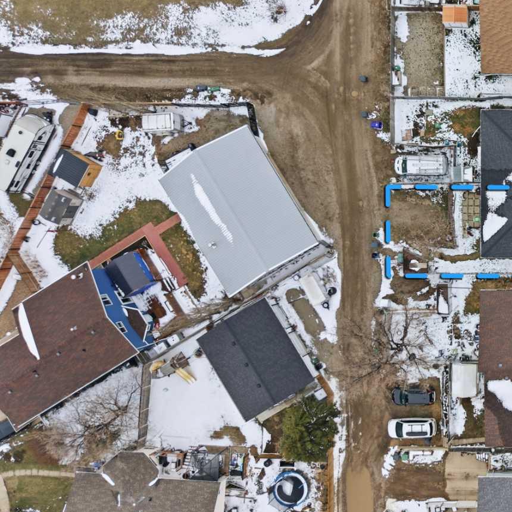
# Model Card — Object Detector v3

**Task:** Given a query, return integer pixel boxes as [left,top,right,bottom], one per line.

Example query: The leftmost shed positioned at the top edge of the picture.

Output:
[442,3,470,28]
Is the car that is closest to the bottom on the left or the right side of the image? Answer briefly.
right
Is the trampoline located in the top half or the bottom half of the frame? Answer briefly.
bottom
